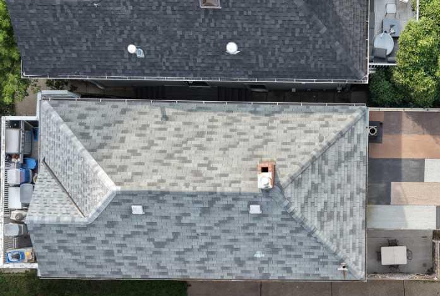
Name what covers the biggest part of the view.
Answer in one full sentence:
What you mostly see from above here is buildings.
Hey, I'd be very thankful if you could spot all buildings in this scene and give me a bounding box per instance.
[22,92,370,281]
[2,0,375,96]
